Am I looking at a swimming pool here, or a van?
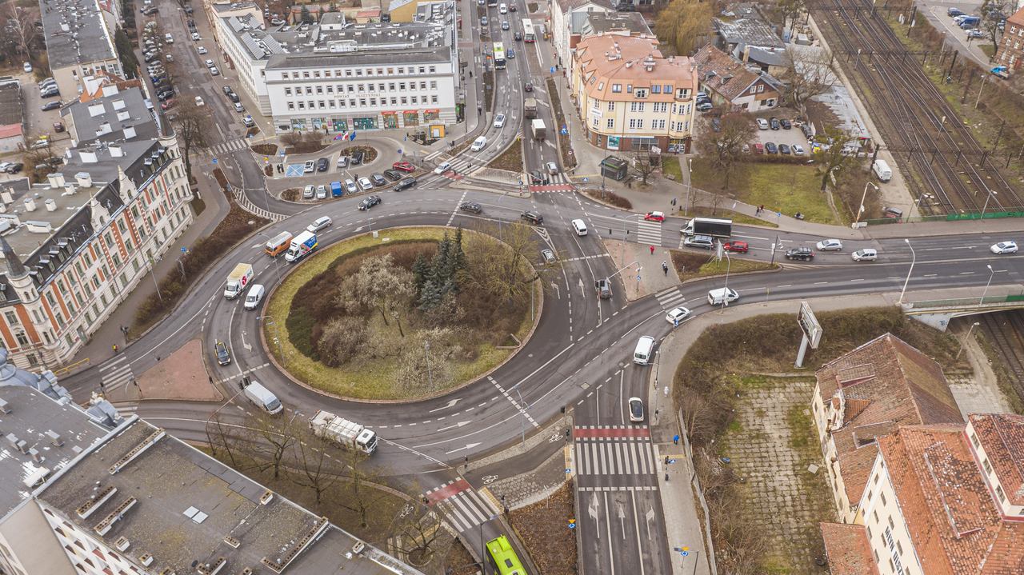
van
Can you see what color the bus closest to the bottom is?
green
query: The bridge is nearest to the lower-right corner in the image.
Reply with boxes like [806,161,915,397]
[893,282,1024,323]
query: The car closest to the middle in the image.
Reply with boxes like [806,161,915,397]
[540,248,556,265]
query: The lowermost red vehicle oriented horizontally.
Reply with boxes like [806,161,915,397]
[721,239,751,253]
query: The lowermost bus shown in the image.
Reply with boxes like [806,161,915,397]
[485,535,532,575]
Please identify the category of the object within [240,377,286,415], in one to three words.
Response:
van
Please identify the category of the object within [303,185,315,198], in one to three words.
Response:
vehicle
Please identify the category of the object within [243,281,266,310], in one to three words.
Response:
vehicle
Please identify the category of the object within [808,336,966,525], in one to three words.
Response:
building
